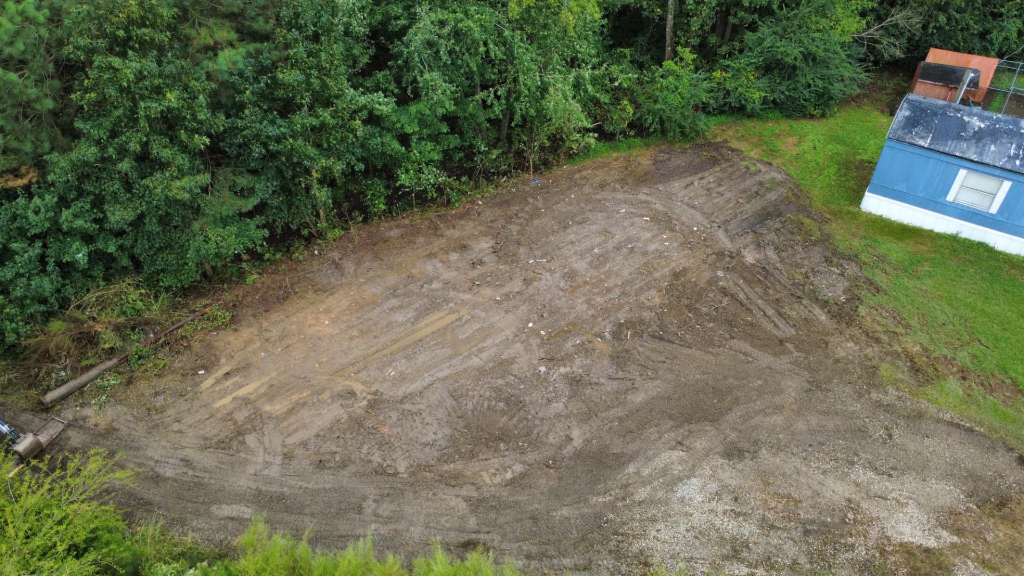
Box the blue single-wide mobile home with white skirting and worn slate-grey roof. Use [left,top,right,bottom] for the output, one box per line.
[858,93,1024,258]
